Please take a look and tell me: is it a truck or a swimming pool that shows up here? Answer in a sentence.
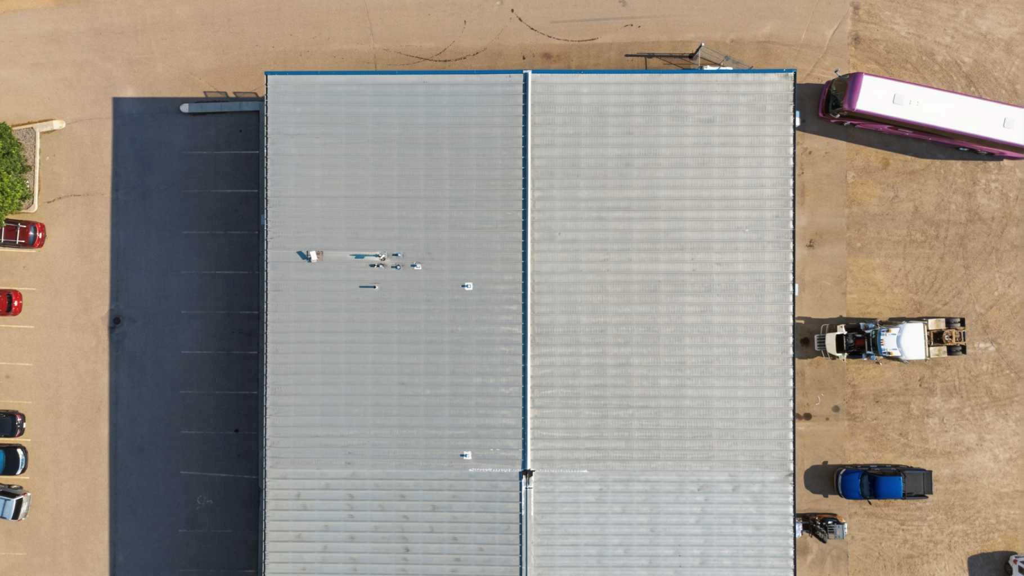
This aerial view contains a truck.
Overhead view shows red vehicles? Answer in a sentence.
Yes, there's a red vehicle here.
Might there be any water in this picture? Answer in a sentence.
No, the picture contains no water.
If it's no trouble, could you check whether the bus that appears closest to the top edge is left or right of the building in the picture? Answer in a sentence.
To the right of the building is where the bus that appears closest to the top edge appears.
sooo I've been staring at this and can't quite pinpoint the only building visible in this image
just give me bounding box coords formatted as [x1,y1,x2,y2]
[263,68,797,576]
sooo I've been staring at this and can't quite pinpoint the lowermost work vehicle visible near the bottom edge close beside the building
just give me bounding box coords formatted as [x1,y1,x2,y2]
[795,511,847,551]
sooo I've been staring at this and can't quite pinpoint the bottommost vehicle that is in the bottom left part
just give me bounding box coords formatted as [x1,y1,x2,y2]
[0,486,33,519]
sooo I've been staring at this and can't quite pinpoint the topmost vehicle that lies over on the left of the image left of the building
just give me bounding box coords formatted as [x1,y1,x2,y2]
[0,218,49,247]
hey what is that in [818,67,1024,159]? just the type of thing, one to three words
bus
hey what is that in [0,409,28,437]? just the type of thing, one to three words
car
